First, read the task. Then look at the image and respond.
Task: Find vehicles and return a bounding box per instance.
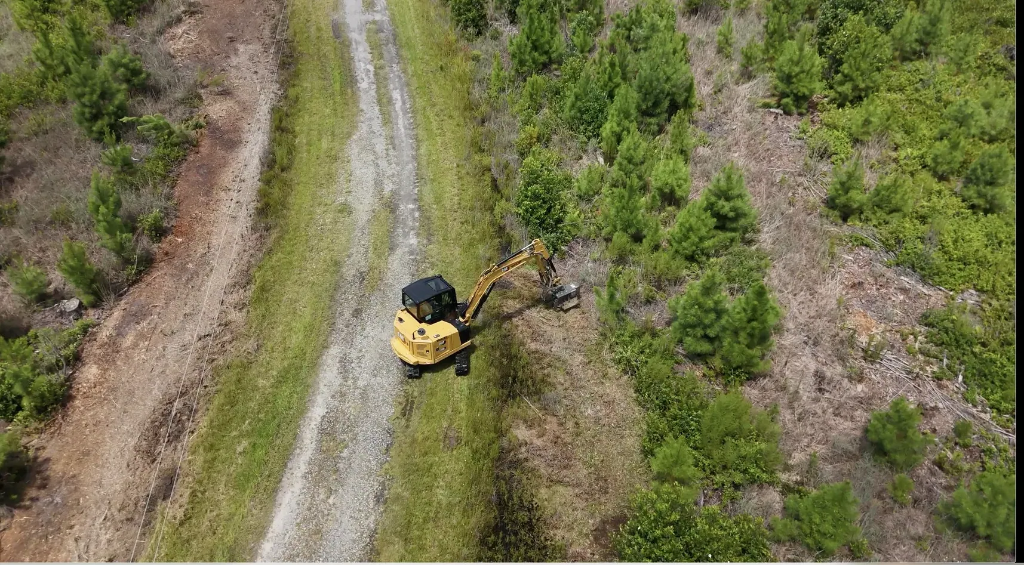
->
[391,237,583,376]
